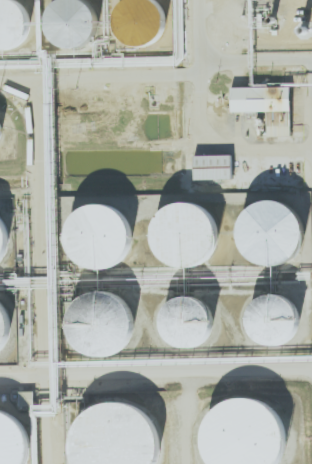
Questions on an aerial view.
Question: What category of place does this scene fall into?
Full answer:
This image shows an industrial area.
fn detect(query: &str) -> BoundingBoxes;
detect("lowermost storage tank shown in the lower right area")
[198,398,288,464]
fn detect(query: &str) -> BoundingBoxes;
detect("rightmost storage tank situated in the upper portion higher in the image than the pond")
[110,0,168,50]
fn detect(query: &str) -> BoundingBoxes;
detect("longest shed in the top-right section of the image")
[230,86,290,112]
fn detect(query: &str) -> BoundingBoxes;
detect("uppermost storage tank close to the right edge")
[234,199,306,268]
